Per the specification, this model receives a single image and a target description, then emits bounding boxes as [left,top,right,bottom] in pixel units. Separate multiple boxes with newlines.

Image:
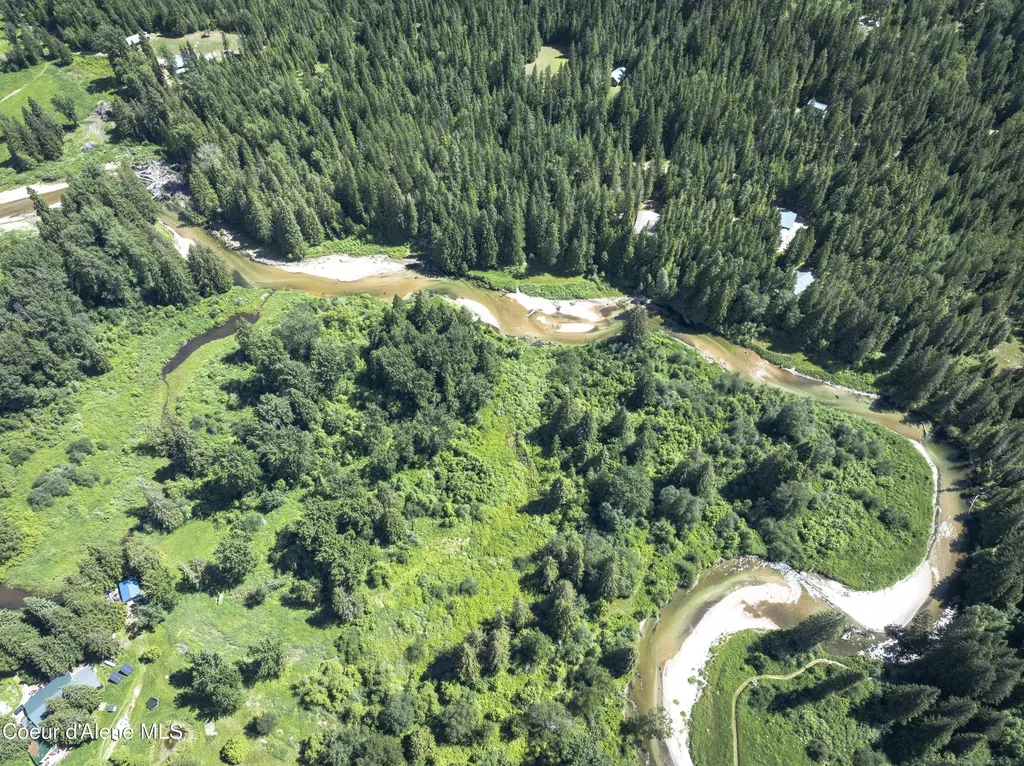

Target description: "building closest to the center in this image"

[634,212,659,240]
